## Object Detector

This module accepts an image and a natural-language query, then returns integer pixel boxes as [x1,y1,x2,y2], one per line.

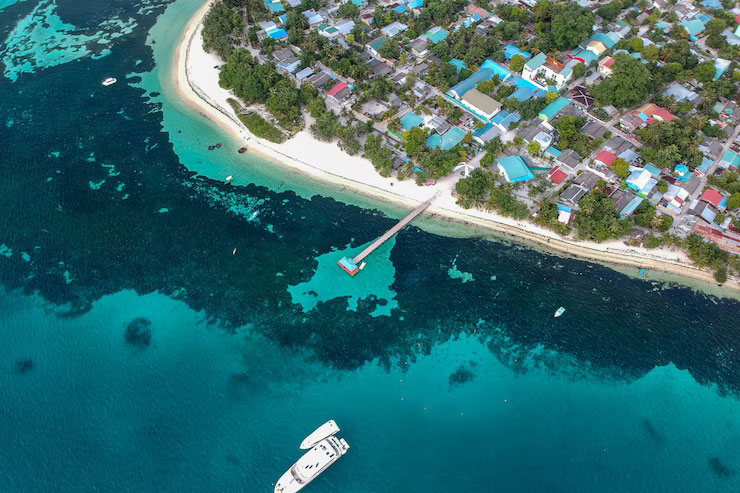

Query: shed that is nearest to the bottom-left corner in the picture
[337,256,360,280]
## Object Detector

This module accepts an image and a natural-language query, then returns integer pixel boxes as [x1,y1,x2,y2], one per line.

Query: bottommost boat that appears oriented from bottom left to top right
[275,436,348,493]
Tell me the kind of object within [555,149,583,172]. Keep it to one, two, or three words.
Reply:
house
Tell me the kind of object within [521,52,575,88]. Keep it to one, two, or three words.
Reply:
building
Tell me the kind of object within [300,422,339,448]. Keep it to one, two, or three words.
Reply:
boat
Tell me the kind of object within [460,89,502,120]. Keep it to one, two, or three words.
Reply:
building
